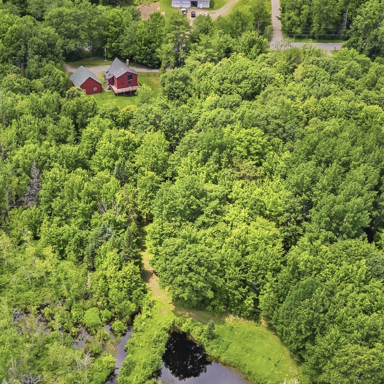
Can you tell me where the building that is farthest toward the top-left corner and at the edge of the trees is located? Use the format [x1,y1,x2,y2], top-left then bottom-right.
[71,66,102,94]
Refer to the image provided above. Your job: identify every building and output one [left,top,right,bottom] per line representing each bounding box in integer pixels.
[102,55,142,96]
[71,66,102,94]
[171,0,211,7]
